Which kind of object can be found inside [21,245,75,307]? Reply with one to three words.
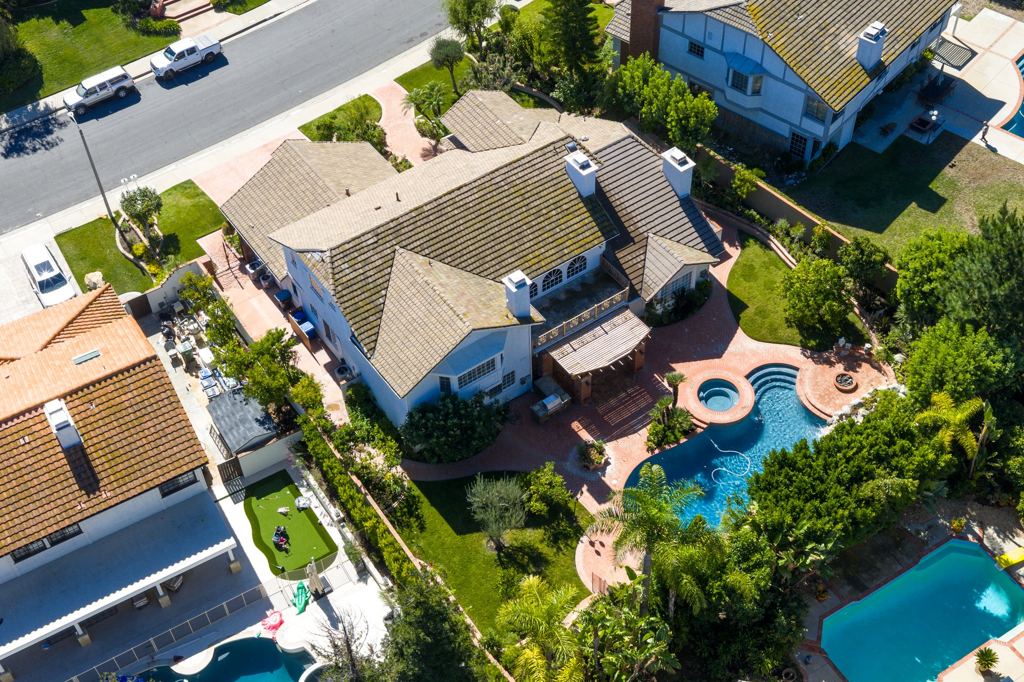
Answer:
car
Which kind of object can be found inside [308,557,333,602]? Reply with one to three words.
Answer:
umbrella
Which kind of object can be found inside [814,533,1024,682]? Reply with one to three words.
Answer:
swimming pool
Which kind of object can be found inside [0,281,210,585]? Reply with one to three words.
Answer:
house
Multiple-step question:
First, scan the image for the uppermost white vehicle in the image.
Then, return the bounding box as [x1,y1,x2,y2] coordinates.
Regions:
[144,31,222,80]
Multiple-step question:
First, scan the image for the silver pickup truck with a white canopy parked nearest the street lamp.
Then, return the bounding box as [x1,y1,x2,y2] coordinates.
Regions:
[55,59,137,114]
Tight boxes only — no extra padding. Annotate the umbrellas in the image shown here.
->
[308,557,333,602]
[936,60,945,86]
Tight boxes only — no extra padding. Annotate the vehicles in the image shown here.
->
[55,59,137,114]
[144,31,222,80]
[21,245,75,307]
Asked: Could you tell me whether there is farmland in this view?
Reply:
No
